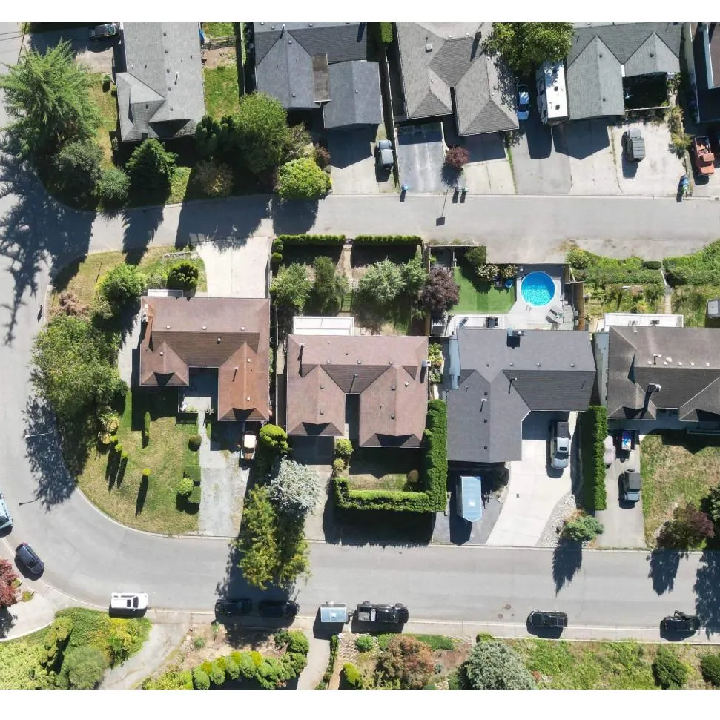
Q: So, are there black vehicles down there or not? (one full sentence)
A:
Yes, the image includes a black vehicle.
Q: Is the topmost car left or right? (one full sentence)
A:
You can find the topmost car on the left side of the picture.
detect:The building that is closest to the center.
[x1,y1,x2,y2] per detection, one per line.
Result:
[286,317,430,449]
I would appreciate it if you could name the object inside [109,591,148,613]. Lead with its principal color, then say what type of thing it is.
white car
